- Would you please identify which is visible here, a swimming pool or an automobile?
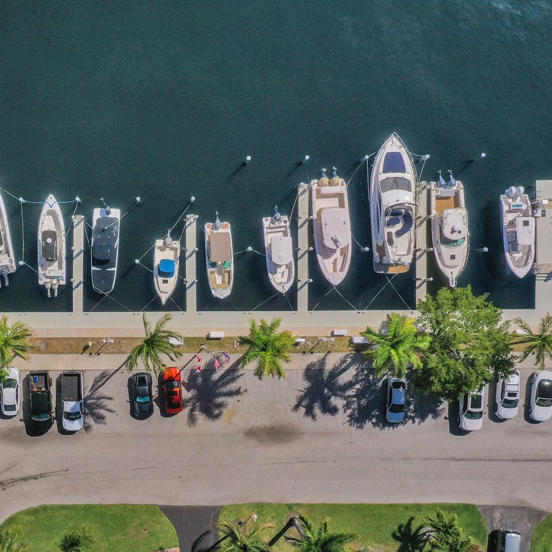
automobile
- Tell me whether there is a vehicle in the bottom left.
Yes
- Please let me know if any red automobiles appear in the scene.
Yes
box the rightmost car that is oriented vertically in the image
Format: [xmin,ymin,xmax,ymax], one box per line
[528,369,552,421]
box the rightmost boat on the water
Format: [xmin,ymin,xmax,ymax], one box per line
[497,183,535,279]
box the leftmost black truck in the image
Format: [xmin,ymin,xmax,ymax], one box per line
[26,370,53,434]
